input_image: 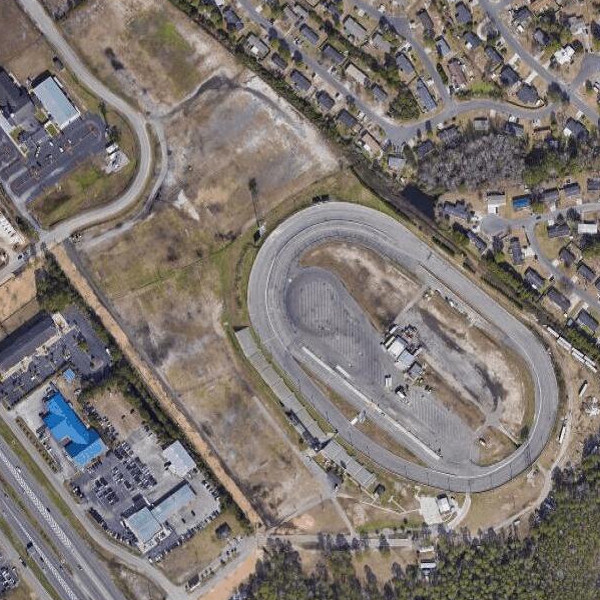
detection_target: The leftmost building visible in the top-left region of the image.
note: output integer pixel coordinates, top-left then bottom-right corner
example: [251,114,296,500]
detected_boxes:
[0,64,45,143]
